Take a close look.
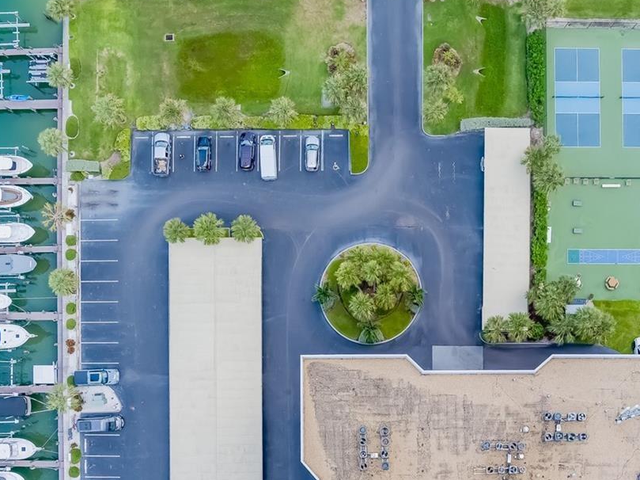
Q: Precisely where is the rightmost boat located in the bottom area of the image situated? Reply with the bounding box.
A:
[81,386,121,413]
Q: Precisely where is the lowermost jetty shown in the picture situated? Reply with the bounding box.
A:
[0,457,63,470]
